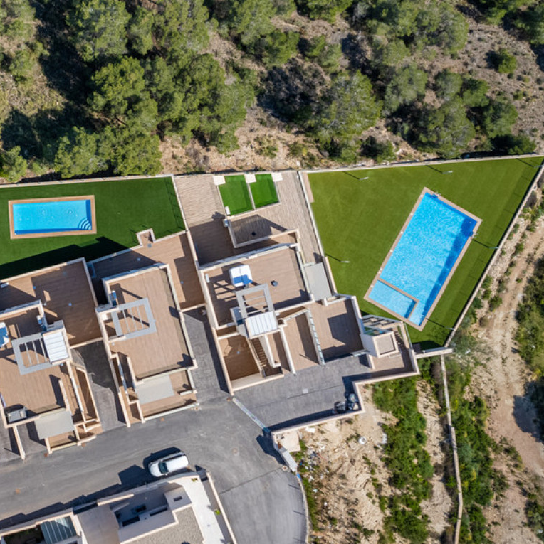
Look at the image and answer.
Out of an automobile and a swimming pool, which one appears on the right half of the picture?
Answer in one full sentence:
What appears on the right half of the picture is a swimming pool.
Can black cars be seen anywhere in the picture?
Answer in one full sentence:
No, the photo shows no black car.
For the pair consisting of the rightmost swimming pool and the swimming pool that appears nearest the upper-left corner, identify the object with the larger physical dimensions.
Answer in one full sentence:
The rightmost swimming pool is bigger than the swimming pool that appears nearest the upper-left corner.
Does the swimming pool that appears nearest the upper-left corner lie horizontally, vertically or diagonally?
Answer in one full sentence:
From this overhead view, the swimming pool that appears nearest the upper-left corner appears to run horizontally.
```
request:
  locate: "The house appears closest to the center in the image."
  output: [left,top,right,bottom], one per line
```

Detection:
[191,244,331,374]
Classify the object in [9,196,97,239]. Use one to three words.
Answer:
swimming pool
